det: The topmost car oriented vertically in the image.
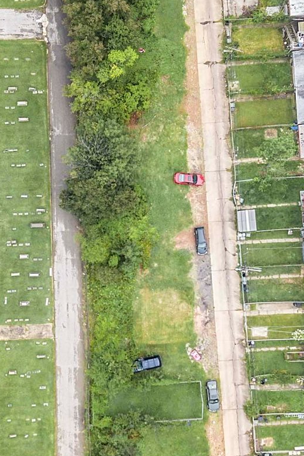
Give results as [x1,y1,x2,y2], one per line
[193,224,210,256]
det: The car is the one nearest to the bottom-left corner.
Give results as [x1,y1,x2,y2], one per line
[132,354,165,372]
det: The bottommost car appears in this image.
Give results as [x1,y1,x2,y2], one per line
[205,378,221,411]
